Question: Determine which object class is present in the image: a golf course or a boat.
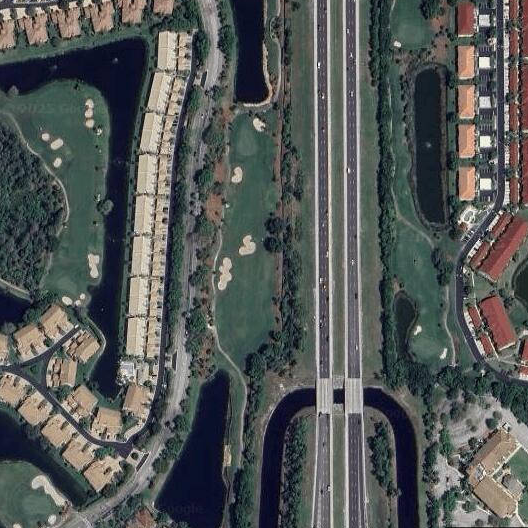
golf course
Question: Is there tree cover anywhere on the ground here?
Yes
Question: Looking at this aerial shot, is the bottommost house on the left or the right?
left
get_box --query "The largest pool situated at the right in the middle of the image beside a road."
[458,205,478,226]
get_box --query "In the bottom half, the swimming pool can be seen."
[121,359,135,379]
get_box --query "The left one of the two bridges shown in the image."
[316,377,333,413]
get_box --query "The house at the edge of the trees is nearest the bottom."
[127,507,157,528]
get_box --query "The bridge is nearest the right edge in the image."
[345,377,363,413]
